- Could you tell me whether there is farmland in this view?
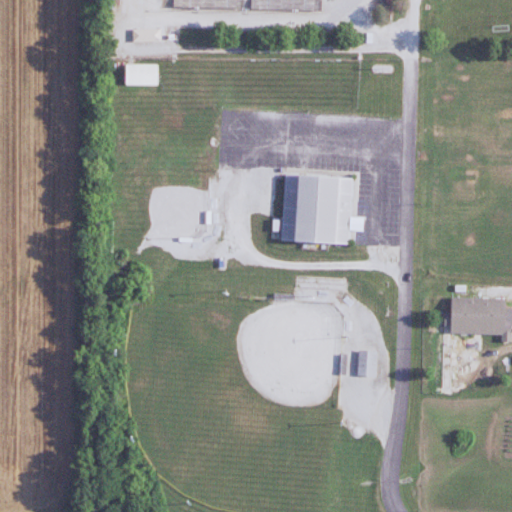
Yes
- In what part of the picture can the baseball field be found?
bottom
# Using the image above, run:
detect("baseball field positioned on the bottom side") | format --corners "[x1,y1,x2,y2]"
[126,296,344,512]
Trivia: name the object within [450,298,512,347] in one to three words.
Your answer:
house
